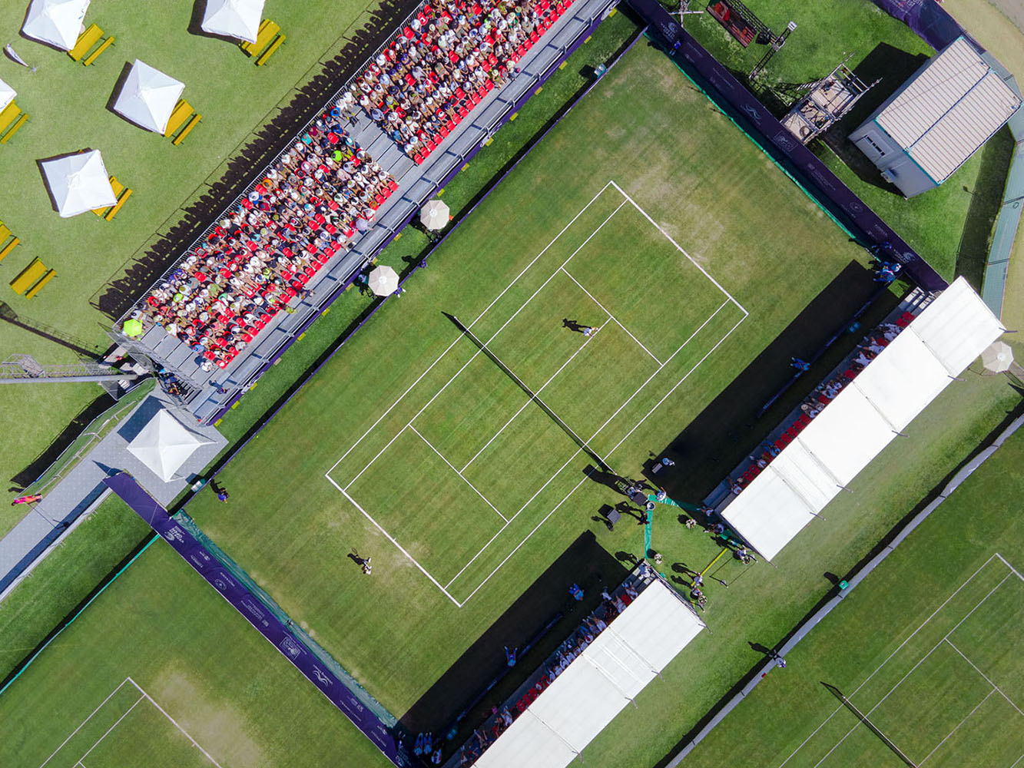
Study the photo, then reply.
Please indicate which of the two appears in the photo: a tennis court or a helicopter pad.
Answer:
tennis court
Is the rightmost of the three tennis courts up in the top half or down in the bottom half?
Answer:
bottom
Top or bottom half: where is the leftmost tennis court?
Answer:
bottom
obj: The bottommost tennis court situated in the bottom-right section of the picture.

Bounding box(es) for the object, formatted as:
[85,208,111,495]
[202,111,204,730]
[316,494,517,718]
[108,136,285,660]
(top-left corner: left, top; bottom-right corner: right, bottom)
[679,416,1024,768]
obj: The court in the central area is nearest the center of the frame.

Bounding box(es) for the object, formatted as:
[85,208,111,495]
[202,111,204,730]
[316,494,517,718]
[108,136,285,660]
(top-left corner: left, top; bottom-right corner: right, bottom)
[177,25,903,757]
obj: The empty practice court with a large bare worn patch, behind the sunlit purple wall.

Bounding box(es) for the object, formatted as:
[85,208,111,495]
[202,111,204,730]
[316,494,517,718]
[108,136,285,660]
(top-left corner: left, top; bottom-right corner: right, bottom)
[0,535,396,768]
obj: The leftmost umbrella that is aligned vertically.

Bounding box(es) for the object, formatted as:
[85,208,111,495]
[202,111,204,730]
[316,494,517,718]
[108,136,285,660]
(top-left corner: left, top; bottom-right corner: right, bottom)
[0,76,20,118]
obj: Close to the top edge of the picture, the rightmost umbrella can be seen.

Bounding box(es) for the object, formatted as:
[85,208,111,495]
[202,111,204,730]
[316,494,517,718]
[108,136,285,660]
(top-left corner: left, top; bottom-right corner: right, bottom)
[203,0,272,45]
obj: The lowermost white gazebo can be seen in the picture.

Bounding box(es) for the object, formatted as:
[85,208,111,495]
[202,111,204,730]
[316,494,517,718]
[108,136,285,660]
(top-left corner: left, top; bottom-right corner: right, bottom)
[127,407,218,485]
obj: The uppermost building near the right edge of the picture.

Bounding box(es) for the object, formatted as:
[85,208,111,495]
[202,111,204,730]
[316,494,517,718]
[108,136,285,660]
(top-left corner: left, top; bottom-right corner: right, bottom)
[850,35,1024,197]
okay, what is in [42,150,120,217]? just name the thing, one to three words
umbrella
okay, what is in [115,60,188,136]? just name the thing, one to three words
umbrella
